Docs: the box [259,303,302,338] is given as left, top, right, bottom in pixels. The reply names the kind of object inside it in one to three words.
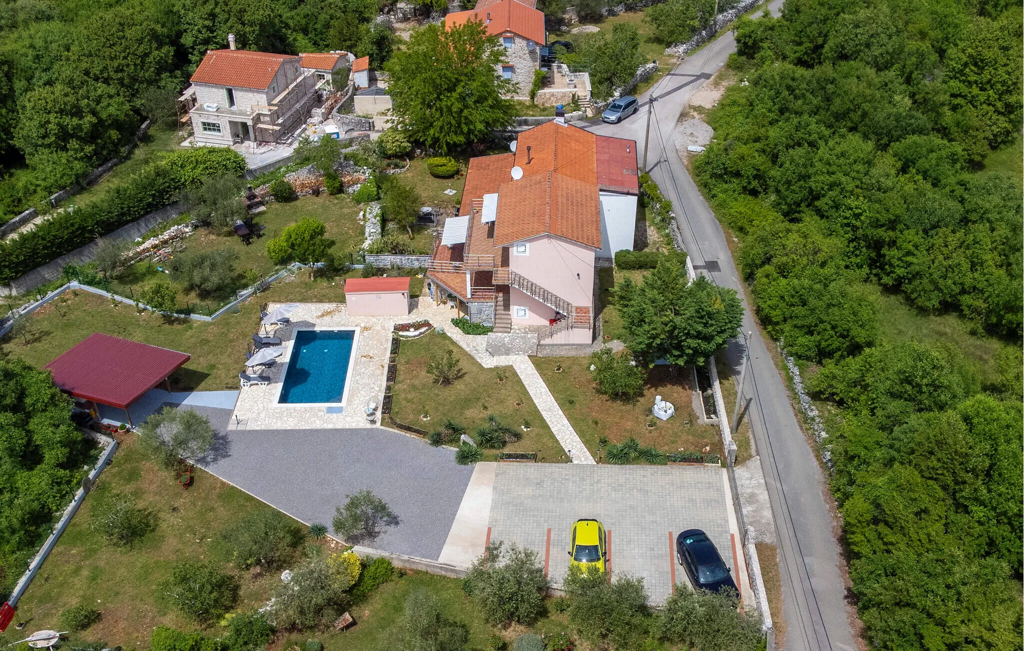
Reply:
umbrella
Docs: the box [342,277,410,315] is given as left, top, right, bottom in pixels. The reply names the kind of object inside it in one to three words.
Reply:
shed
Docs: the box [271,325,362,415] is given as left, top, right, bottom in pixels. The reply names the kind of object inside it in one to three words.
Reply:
swimming pool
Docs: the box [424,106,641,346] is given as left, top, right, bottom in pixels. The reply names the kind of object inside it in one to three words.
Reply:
house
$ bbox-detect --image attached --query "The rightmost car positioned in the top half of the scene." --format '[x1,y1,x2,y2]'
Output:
[600,95,638,123]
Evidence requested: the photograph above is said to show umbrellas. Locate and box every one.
[259,303,302,338]
[243,343,285,378]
